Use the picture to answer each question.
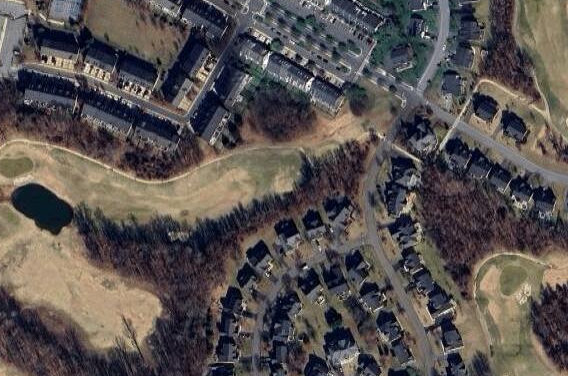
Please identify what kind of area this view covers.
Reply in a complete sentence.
The picture captures a residential area.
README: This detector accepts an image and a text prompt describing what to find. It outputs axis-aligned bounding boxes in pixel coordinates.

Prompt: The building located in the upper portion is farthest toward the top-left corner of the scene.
[36,35,81,65]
